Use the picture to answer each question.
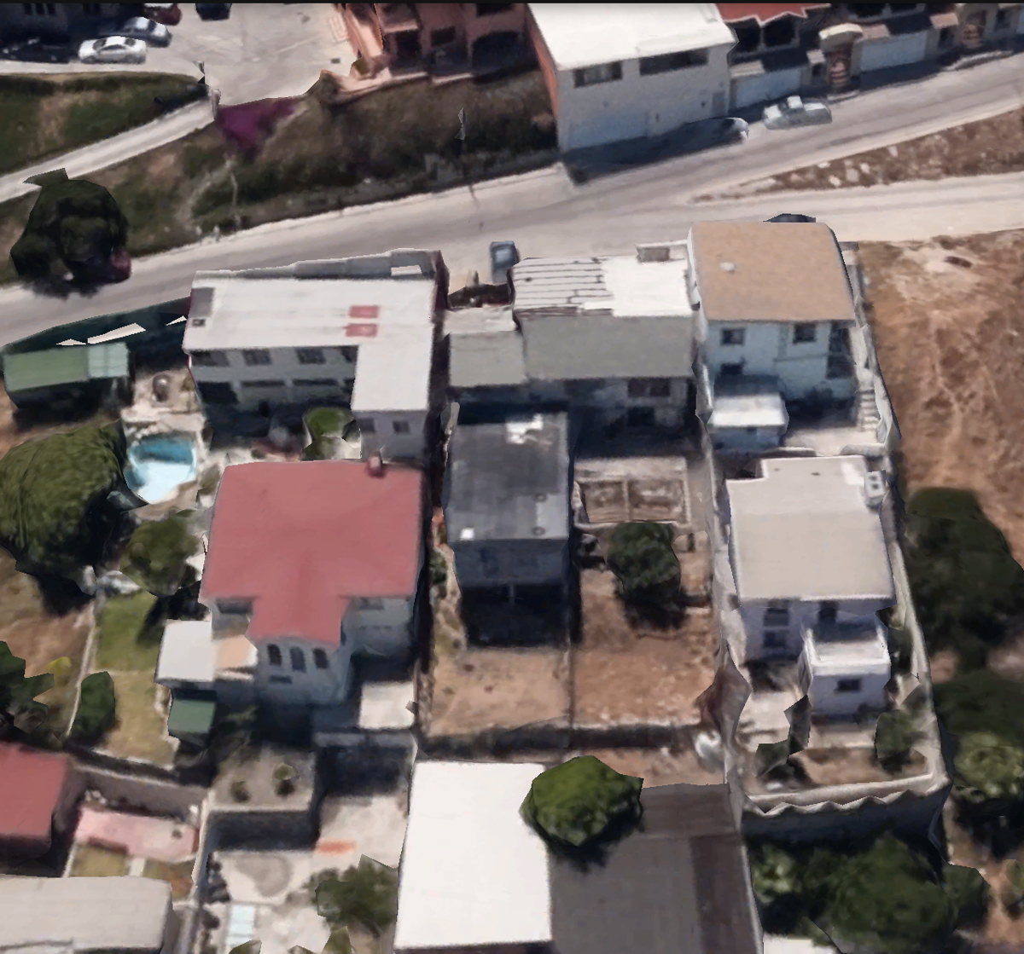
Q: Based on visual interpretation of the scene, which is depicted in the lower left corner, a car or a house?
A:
house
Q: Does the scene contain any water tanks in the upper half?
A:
No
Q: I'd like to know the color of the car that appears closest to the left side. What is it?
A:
black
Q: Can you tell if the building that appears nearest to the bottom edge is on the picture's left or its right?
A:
left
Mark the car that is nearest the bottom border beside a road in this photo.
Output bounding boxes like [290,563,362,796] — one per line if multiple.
[486,236,518,291]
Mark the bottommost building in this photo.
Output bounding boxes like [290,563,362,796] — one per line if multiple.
[0,875,178,954]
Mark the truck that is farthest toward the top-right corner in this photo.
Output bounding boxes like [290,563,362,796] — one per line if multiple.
[760,96,837,133]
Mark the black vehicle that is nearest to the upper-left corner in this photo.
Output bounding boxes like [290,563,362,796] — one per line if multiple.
[0,32,67,64]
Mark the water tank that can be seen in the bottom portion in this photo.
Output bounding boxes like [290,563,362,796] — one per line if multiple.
[699,732,724,761]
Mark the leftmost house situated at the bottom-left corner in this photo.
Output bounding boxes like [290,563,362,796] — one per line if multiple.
[0,739,76,861]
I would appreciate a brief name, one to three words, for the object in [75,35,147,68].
car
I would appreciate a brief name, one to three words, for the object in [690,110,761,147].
car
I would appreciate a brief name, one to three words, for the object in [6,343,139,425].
shed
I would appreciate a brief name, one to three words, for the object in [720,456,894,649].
house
